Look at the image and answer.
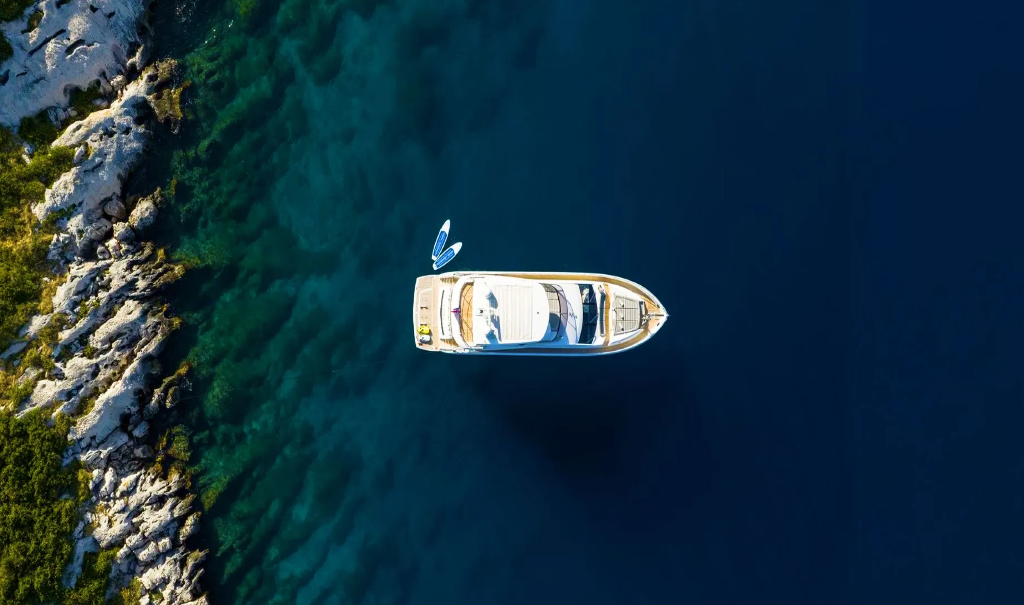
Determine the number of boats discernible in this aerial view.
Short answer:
one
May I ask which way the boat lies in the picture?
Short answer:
from left to right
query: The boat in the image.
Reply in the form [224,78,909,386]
[413,271,671,357]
